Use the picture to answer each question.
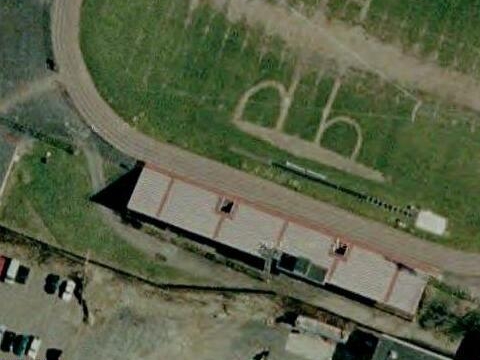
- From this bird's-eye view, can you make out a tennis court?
No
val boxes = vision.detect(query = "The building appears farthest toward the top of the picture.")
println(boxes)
[297,316,342,345]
